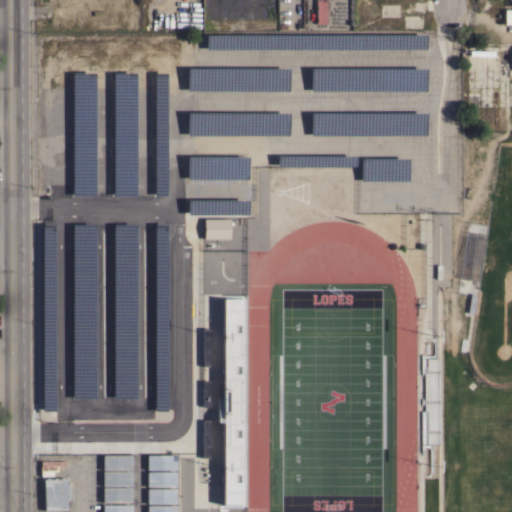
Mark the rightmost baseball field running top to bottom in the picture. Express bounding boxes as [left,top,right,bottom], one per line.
[474,146,512,388]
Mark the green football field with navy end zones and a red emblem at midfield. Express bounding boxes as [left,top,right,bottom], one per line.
[270,284,397,512]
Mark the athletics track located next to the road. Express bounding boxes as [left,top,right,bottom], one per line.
[248,222,417,512]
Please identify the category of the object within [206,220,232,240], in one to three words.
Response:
building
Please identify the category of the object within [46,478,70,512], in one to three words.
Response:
building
